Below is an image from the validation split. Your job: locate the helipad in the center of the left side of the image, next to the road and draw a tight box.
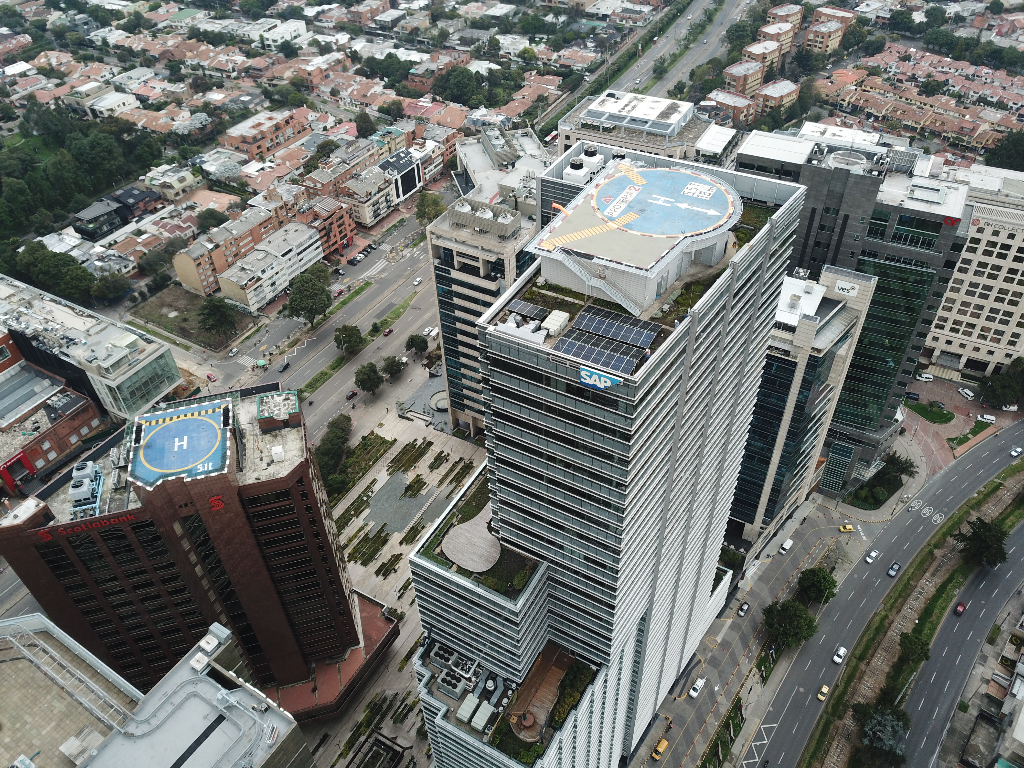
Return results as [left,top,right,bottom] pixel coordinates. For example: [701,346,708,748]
[120,391,242,493]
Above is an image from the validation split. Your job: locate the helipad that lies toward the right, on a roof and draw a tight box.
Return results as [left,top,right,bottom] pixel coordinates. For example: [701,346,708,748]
[526,164,749,310]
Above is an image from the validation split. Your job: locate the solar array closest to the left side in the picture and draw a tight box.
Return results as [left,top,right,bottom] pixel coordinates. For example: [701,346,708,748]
[501,300,549,319]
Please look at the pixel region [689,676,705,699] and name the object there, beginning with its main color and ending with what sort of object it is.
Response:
white car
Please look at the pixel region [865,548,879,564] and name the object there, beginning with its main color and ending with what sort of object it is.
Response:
white car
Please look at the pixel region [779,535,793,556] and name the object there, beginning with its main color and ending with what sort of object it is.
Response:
white vehicle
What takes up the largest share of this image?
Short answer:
buildings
